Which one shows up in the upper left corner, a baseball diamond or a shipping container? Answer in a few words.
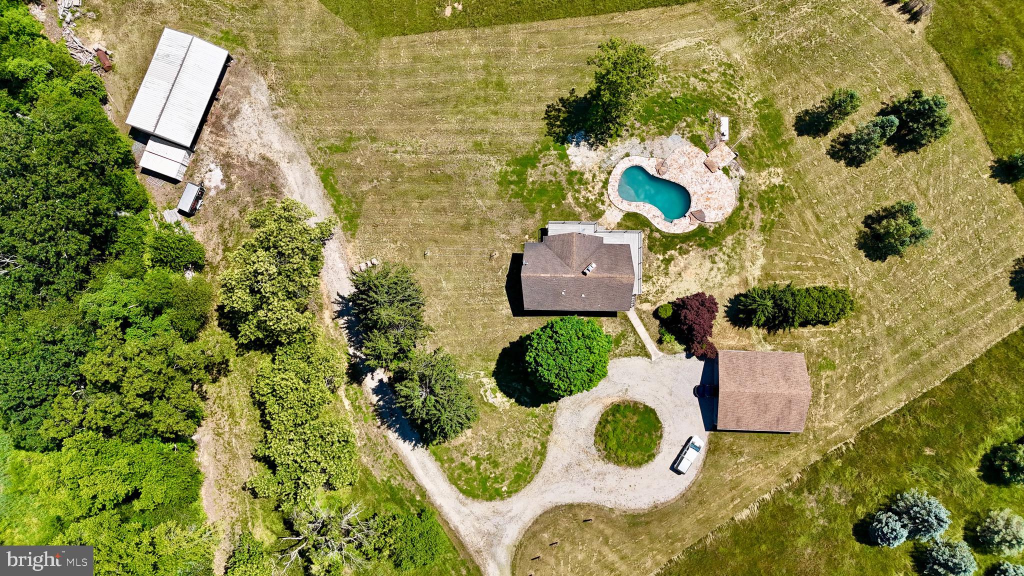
shipping container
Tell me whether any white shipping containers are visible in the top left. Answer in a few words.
Yes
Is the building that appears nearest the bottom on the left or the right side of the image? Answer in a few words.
right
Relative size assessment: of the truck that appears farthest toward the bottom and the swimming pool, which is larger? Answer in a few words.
the swimming pool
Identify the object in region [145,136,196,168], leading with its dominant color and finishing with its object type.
white shipping container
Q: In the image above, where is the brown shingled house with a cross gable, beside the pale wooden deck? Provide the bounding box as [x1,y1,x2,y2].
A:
[521,232,635,312]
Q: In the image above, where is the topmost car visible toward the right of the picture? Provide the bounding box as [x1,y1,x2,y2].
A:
[693,385,719,399]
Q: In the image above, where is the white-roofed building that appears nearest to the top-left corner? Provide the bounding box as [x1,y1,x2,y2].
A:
[125,28,236,150]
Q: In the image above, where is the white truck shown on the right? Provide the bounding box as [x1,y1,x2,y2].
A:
[673,435,702,476]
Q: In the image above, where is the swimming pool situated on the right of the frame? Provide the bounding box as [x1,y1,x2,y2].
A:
[618,166,691,221]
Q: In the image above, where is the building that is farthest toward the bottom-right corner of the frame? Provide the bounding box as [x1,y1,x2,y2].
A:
[717,350,811,432]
